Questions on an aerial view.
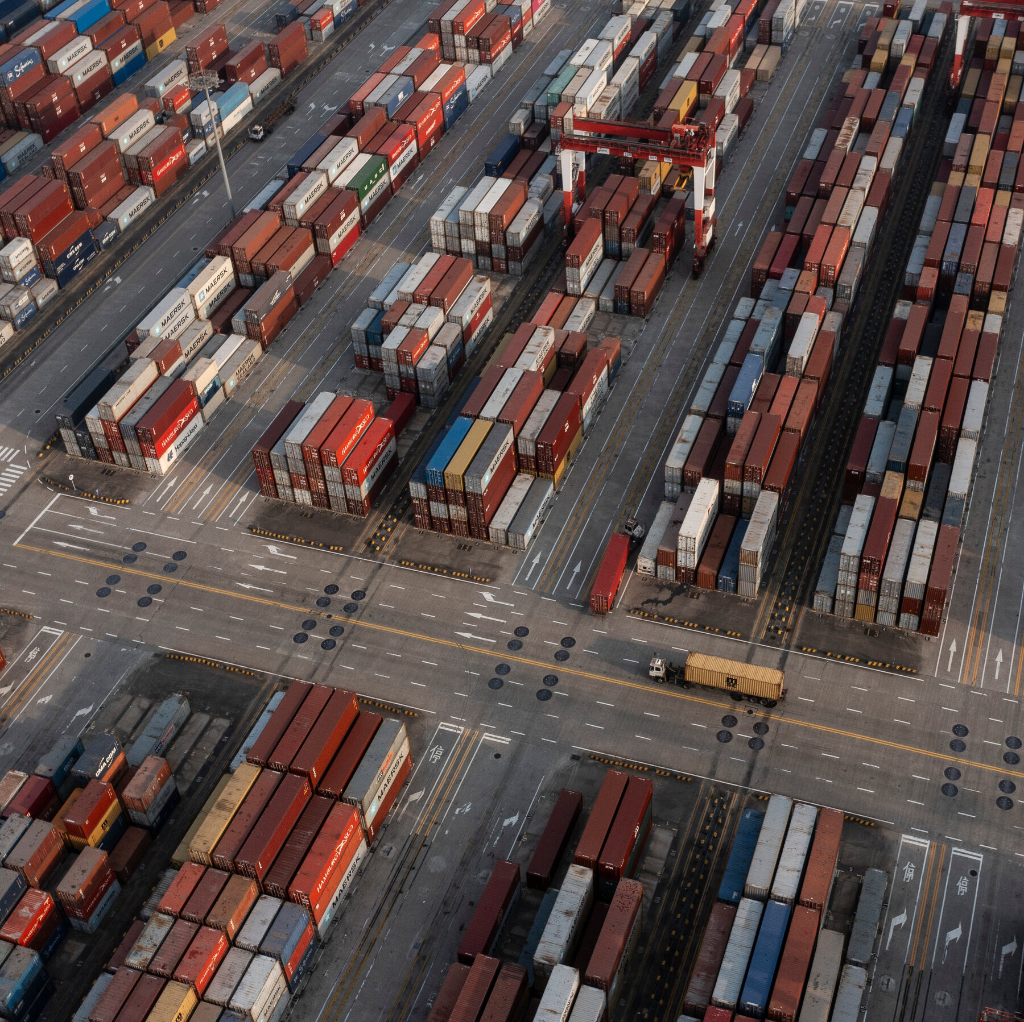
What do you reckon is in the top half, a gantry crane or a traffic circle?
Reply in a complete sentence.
The feature located in the top half is a gantry crane.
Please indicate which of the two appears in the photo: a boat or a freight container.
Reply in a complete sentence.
The one in the frame is a freight container.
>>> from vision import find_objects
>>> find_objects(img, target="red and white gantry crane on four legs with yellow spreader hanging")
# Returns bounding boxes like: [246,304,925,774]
[553,108,724,276]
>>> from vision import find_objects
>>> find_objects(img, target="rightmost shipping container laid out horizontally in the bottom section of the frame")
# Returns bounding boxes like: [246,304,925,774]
[686,651,785,701]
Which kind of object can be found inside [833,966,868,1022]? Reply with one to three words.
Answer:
shipping container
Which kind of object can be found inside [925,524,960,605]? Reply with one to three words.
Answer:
shipping container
